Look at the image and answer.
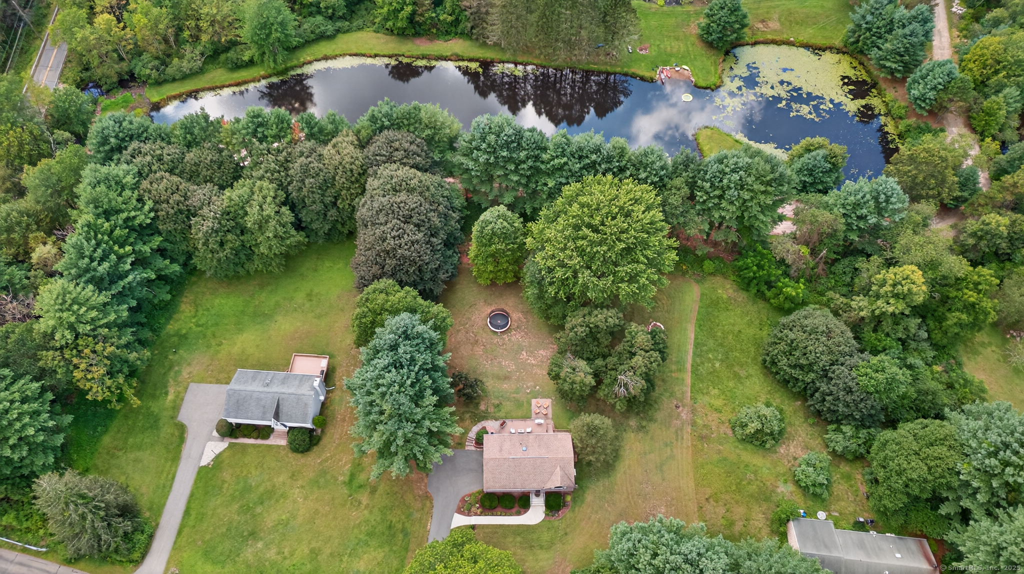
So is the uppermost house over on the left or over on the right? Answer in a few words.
left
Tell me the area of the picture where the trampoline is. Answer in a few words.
center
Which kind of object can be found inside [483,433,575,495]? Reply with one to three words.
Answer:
house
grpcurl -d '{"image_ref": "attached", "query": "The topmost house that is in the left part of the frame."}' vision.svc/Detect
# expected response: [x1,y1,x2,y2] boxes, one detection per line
[223,370,328,432]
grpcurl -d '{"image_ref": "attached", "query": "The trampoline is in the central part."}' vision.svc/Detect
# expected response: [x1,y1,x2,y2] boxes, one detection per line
[488,307,510,336]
